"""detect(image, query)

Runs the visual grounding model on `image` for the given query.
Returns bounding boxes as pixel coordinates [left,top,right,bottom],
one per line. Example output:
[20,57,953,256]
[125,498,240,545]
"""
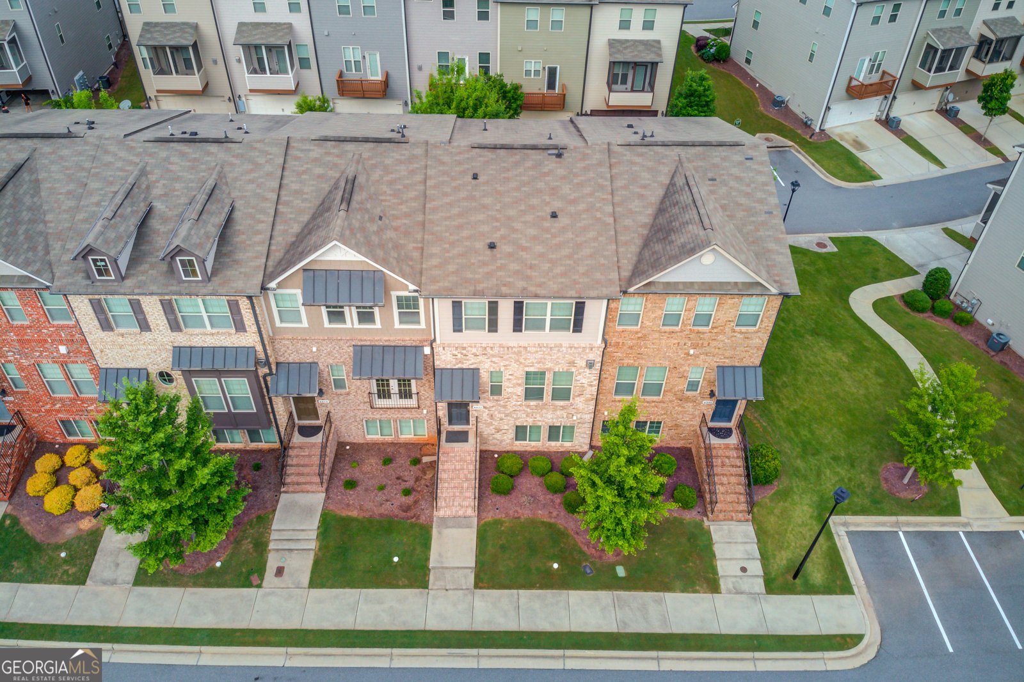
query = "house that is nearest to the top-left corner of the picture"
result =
[0,0,126,99]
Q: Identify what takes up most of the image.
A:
buildings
